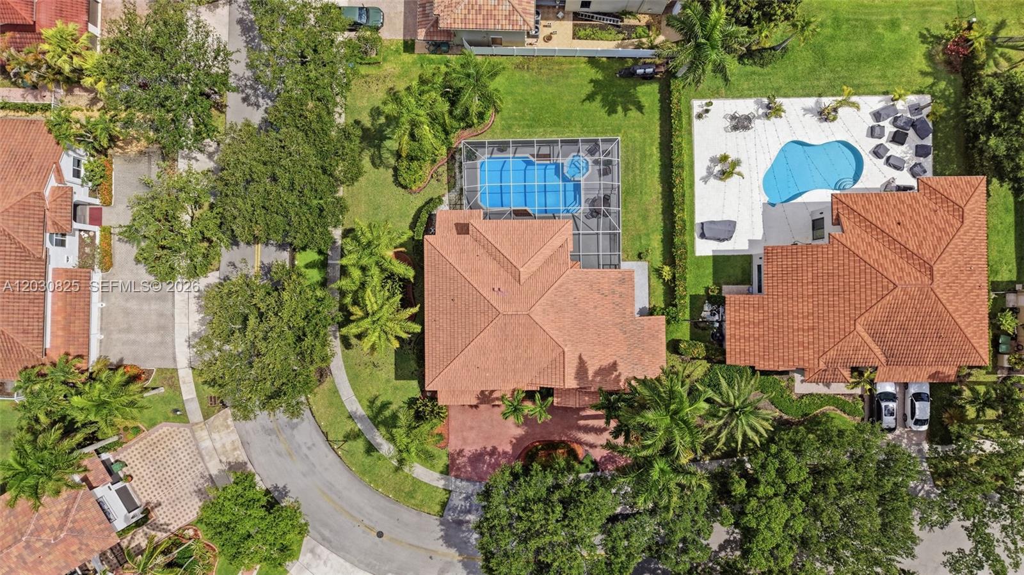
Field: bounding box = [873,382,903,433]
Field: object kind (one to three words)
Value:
car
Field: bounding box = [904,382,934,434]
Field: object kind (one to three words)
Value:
car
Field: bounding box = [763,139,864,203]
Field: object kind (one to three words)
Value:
swimming pool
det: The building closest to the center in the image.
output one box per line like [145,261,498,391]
[424,210,666,408]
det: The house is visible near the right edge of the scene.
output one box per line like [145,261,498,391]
[721,175,990,384]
